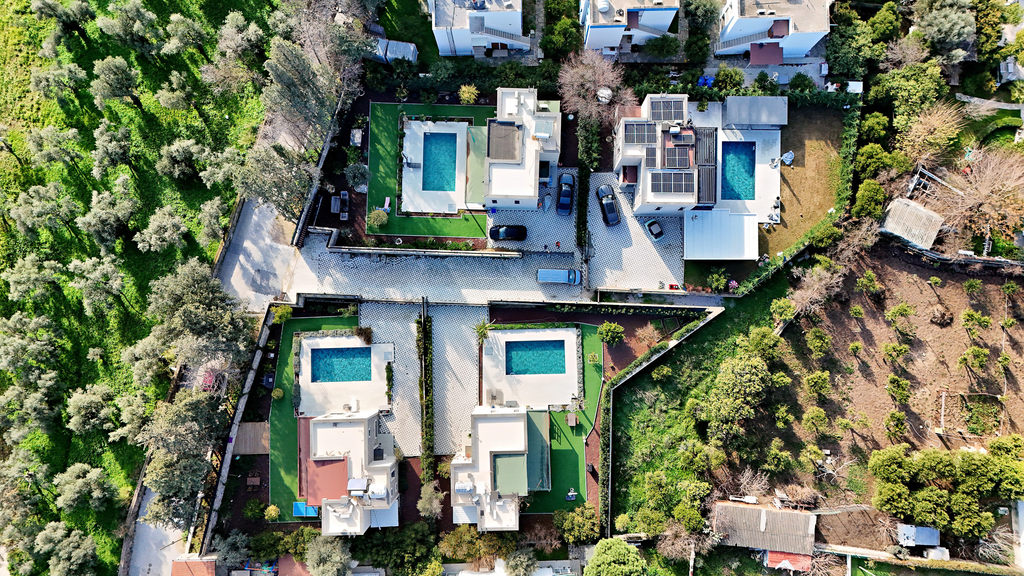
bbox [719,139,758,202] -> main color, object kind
blue swimming pool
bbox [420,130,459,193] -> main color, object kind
blue swimming pool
